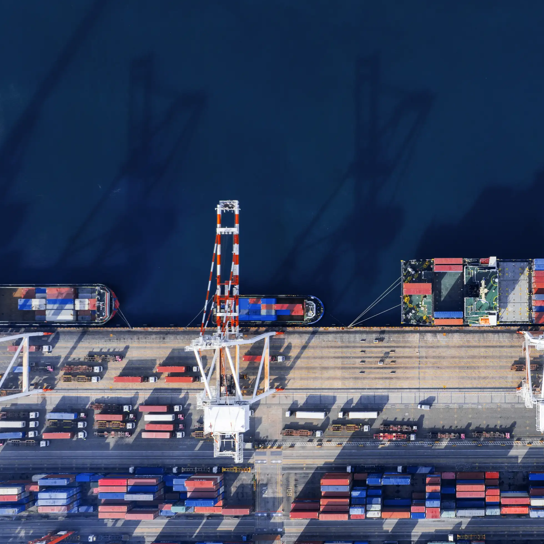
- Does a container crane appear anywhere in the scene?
Yes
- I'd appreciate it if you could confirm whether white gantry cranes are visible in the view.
Yes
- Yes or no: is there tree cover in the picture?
No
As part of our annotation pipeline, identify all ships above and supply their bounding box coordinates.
[402,256,532,325]
[211,294,325,324]
[0,283,121,324]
